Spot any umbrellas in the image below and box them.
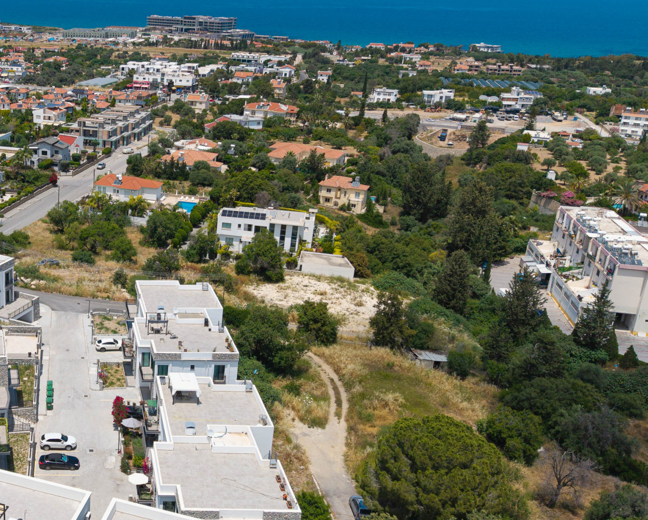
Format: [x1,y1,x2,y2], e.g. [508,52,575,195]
[126,474,147,494]
[120,418,143,435]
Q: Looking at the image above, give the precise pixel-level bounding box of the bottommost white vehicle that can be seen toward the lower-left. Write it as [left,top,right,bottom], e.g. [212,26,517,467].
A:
[40,432,77,450]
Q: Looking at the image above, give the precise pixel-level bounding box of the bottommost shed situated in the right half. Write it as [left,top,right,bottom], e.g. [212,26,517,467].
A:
[410,348,448,373]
